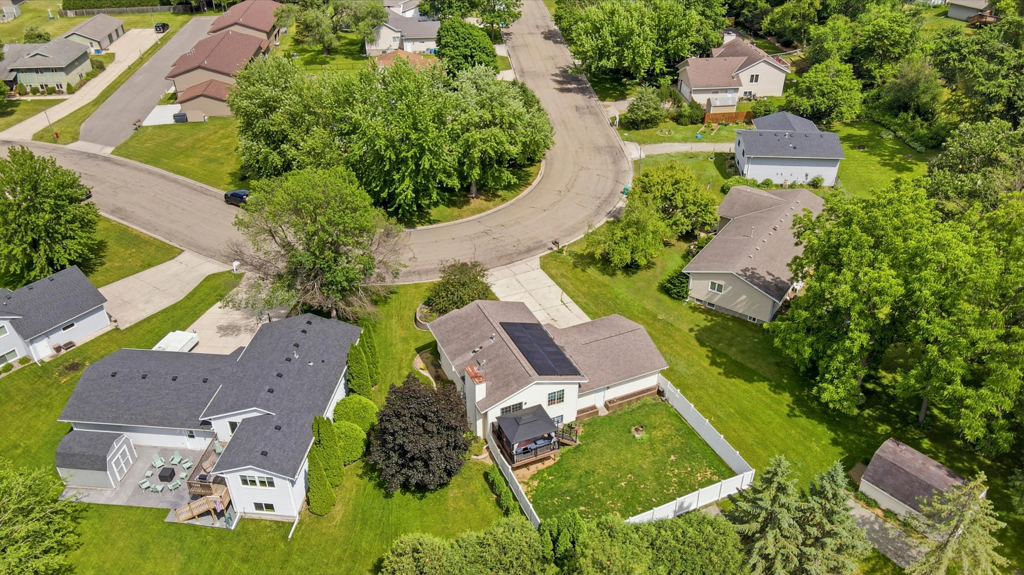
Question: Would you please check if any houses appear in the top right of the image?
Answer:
Yes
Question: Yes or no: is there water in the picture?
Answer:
No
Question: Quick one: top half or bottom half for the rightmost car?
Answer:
top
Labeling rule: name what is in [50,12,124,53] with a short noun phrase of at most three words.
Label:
building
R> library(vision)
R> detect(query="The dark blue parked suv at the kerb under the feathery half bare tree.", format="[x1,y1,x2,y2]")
[220,185,255,205]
